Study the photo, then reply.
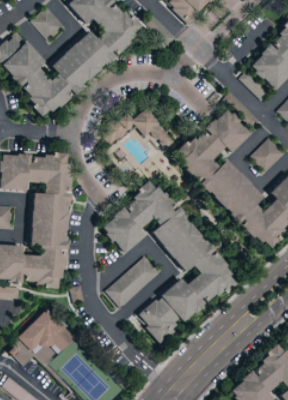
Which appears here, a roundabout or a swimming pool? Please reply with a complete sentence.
Looking from above, you can make out a swimming pool.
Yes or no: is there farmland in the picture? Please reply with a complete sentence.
No, the scene doesn't show any farmland.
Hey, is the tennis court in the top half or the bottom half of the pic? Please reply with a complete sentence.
The tennis court is in the bottom half of the image.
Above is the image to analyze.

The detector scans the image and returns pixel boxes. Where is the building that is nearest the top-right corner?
[254,34,288,90]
